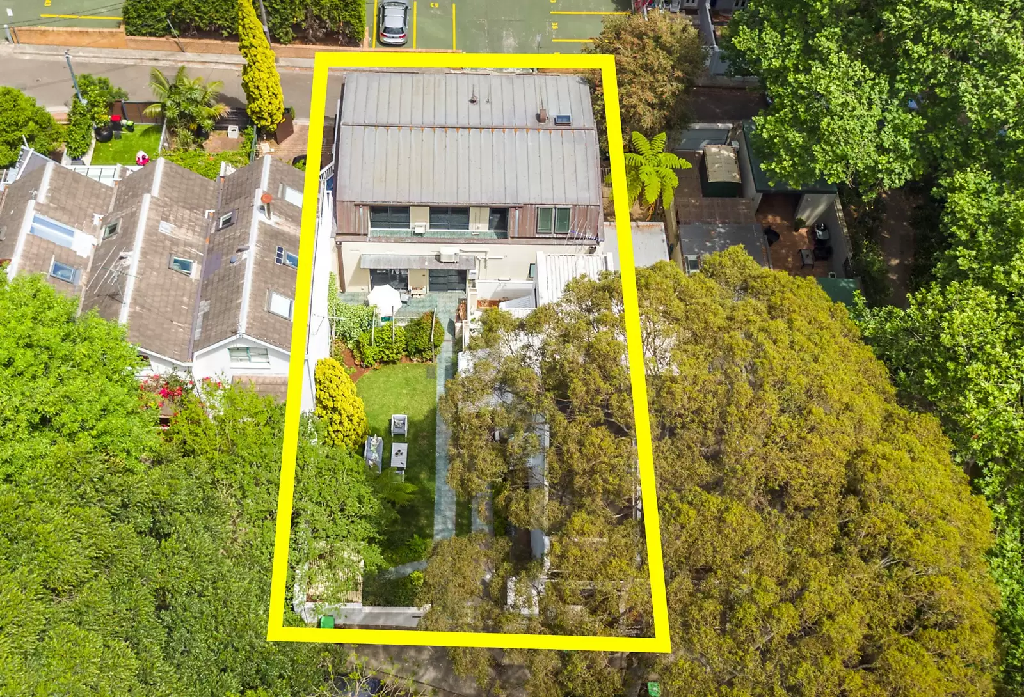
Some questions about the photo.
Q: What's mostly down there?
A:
trees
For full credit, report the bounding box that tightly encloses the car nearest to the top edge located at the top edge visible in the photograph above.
[377,0,411,42]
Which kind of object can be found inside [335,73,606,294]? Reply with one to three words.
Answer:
house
